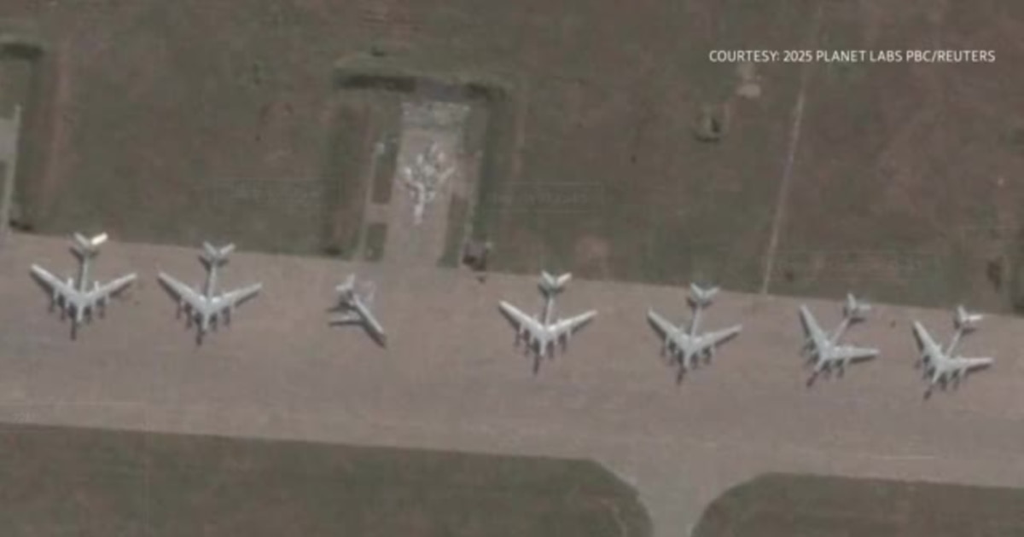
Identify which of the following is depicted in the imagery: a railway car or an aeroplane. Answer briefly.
aeroplane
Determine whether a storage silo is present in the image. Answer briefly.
No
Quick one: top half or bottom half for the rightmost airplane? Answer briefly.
bottom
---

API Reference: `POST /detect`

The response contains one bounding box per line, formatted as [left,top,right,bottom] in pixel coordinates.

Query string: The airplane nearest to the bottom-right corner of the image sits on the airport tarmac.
[912,305,991,395]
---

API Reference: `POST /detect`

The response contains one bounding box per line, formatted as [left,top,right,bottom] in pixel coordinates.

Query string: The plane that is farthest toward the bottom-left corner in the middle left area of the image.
[31,231,136,332]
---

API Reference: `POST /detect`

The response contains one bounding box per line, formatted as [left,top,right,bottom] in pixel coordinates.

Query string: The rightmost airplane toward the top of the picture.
[405,153,451,225]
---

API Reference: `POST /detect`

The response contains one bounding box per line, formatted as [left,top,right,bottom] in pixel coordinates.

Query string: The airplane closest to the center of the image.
[501,272,596,367]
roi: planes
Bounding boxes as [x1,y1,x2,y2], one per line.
[912,305,991,395]
[501,272,596,367]
[799,292,879,381]
[332,275,388,340]
[405,153,451,225]
[159,241,262,343]
[649,283,741,377]
[31,231,136,332]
